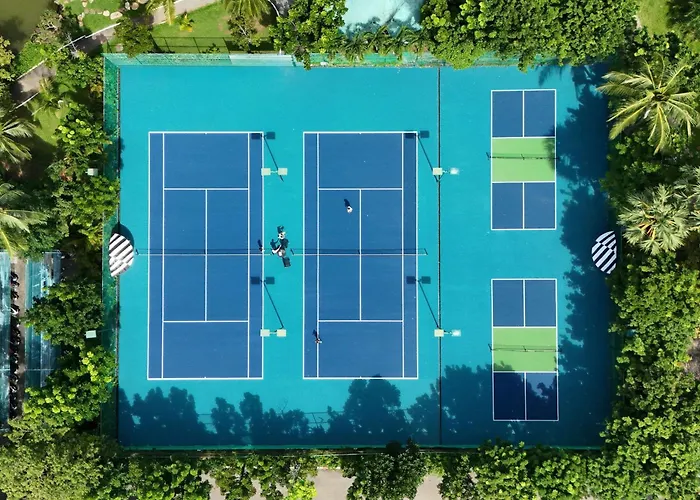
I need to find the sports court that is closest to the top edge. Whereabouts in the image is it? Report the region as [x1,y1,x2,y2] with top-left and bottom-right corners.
[492,90,556,229]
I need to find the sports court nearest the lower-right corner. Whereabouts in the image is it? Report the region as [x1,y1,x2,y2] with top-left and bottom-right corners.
[492,279,558,421]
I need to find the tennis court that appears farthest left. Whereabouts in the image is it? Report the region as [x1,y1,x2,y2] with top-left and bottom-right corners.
[148,131,262,380]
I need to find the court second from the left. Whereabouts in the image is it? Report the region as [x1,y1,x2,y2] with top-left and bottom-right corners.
[303,131,418,380]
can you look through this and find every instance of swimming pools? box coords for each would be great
[323,0,442,46]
